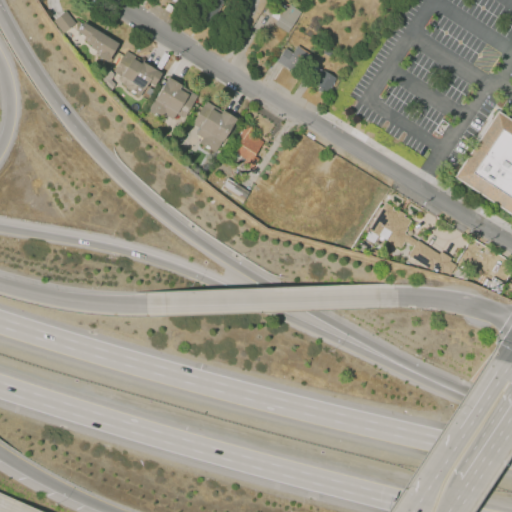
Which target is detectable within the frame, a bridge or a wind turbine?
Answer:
bridge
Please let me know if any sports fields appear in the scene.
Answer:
No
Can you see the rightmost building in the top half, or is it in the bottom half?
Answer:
top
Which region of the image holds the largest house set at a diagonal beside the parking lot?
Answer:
right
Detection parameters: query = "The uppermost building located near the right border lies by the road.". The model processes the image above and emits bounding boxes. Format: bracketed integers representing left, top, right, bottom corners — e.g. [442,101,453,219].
[454,110,512,215]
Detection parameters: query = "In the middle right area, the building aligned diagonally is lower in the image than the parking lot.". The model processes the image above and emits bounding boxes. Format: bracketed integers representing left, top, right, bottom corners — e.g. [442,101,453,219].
[370,201,460,274]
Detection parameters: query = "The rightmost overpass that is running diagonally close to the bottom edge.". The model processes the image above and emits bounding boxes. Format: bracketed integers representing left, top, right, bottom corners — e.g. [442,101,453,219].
[391,360,512,512]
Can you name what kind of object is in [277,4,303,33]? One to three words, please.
house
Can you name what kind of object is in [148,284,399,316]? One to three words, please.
bridge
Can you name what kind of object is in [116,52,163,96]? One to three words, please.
house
